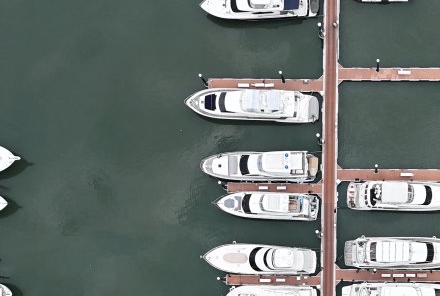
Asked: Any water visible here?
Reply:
Yes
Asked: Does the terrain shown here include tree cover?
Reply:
No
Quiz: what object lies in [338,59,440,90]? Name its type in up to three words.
pier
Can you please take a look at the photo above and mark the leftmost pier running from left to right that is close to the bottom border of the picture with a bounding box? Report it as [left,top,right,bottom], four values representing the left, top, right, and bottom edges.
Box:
[225,267,320,295]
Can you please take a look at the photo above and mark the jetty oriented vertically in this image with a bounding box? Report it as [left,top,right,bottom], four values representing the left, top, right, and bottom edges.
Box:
[320,0,339,296]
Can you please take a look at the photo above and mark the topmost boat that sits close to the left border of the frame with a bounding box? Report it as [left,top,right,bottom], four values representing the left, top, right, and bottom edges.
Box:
[0,147,21,171]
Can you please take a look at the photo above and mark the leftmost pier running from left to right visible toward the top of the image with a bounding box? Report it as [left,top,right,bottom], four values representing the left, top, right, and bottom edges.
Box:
[208,71,322,100]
